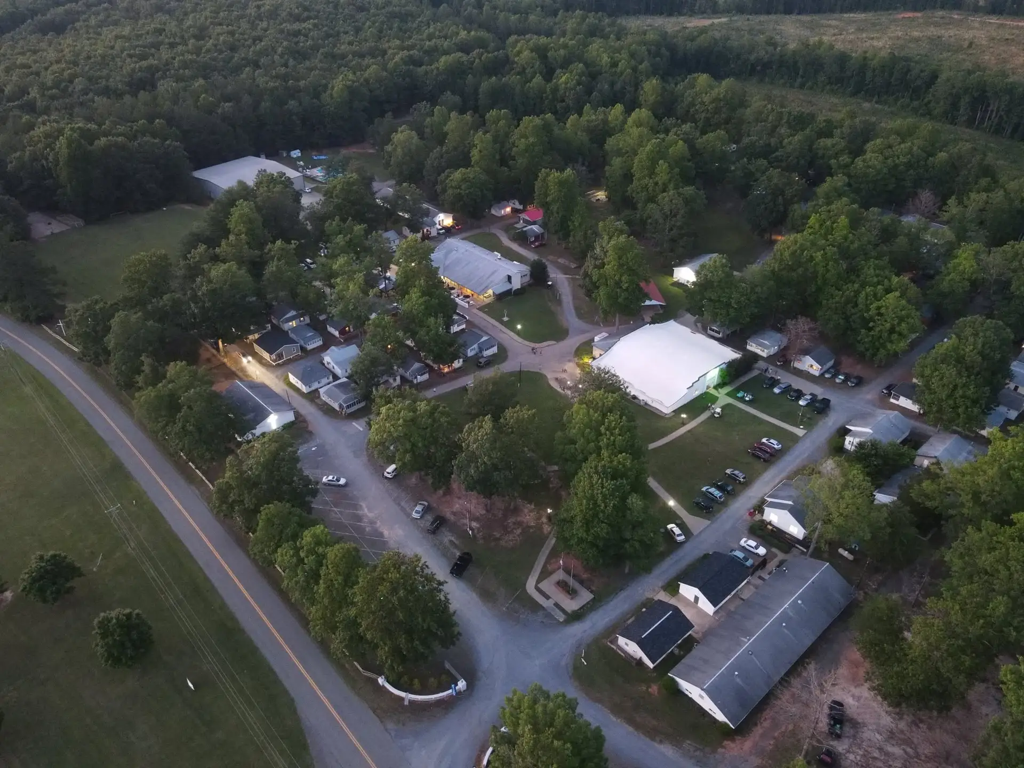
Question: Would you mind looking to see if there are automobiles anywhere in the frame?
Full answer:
Yes, the picture does show an automobile.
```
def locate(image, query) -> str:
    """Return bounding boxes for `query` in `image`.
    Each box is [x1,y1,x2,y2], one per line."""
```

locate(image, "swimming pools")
[302,165,331,183]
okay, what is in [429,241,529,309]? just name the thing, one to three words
building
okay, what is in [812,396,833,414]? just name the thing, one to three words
vehicle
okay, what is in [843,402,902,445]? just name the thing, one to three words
house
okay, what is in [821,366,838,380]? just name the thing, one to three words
car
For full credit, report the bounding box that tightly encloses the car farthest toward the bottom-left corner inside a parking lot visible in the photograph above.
[321,475,348,487]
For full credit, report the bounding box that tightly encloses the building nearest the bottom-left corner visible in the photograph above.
[225,376,296,433]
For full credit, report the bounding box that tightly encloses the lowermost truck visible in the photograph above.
[814,738,842,768]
